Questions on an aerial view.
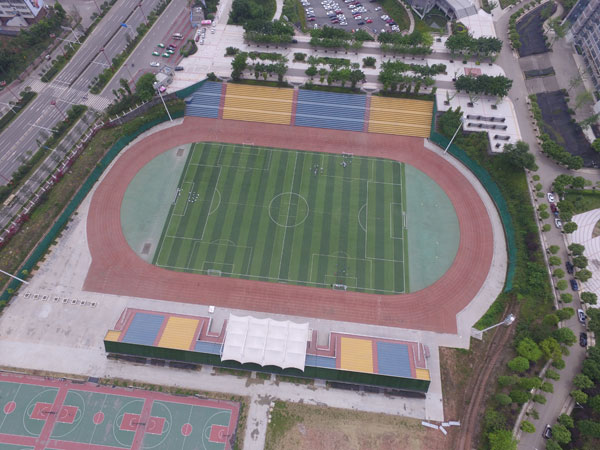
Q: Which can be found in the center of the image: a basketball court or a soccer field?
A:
soccer field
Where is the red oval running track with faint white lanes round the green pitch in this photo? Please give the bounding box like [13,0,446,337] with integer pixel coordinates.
[81,117,493,334]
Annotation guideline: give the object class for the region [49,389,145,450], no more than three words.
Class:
basketball court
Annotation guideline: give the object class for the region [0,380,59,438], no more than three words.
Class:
basketball court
